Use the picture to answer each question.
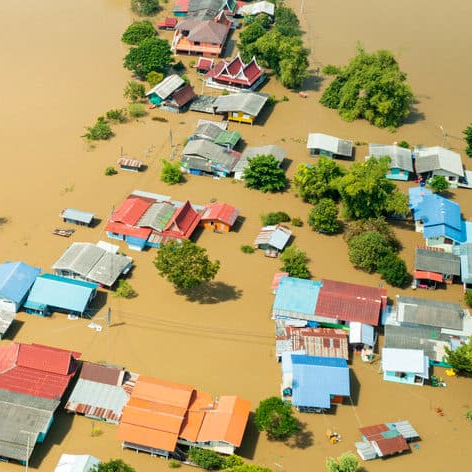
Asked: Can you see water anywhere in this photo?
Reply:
Yes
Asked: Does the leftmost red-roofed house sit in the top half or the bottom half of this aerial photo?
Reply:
bottom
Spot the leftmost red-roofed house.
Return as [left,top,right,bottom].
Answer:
[0,343,80,409]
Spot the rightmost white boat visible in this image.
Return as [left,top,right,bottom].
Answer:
[361,346,375,364]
